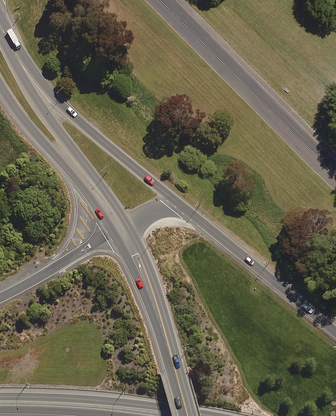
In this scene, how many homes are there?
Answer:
none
